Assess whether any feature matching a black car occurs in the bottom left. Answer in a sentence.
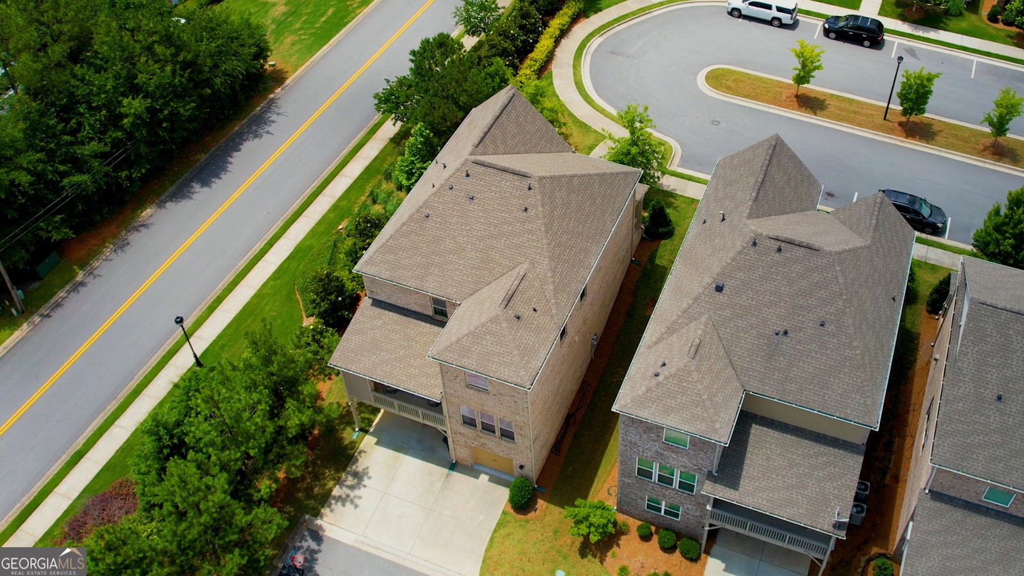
No, in the bottom left there is no black car.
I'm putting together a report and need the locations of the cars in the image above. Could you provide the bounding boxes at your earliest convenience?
[876,186,948,233]
[823,16,888,48]
[725,0,797,27]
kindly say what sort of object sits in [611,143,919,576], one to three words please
house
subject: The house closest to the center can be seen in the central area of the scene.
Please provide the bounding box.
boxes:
[326,87,655,490]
